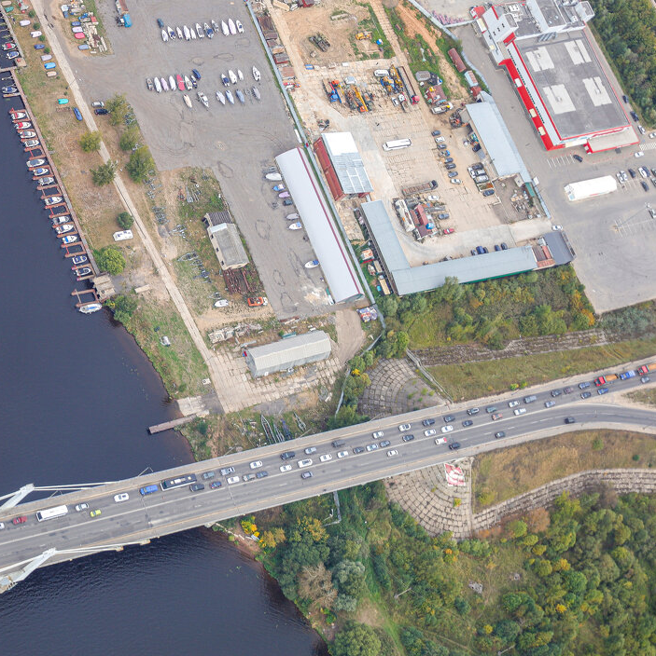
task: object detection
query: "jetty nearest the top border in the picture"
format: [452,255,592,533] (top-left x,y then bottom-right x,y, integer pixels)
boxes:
[0,3,25,59]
